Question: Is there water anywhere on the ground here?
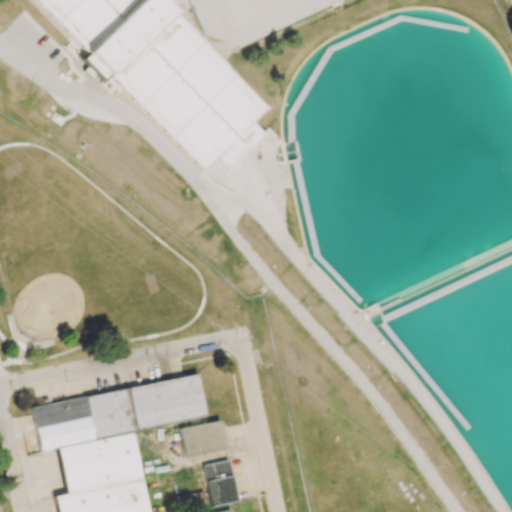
Yes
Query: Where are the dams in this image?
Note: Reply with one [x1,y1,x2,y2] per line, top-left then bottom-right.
[362,248,512,318]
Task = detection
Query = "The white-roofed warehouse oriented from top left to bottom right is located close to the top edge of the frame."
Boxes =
[34,0,270,170]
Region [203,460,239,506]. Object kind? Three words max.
house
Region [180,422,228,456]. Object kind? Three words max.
building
